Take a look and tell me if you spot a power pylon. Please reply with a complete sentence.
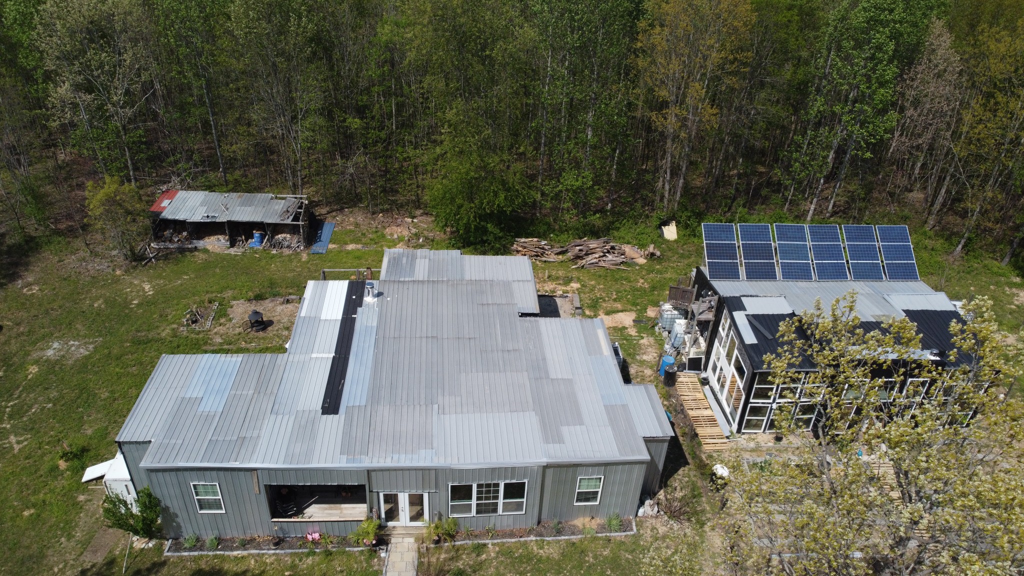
No, there isn't any power pylon down there.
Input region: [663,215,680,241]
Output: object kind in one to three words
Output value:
shed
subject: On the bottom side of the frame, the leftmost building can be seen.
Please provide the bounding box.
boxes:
[113,248,677,539]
